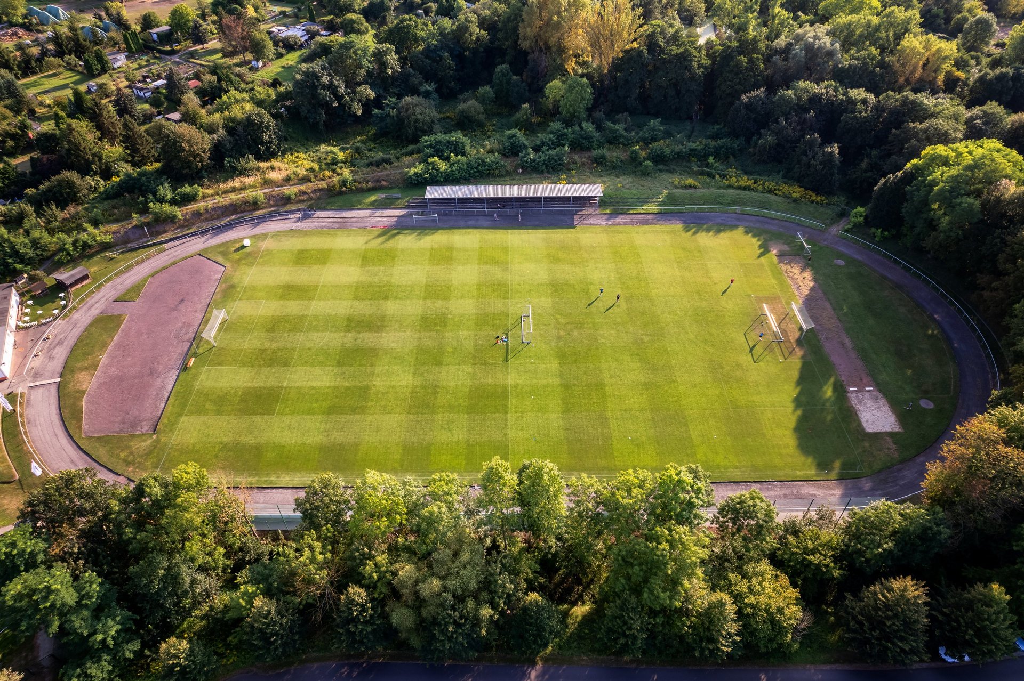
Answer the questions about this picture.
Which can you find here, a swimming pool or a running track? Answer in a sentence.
The image shows a running track.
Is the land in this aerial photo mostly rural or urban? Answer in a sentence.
This place is rural.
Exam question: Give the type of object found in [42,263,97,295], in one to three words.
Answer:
shed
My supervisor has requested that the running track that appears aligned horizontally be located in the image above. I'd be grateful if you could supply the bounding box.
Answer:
[29,212,989,515]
